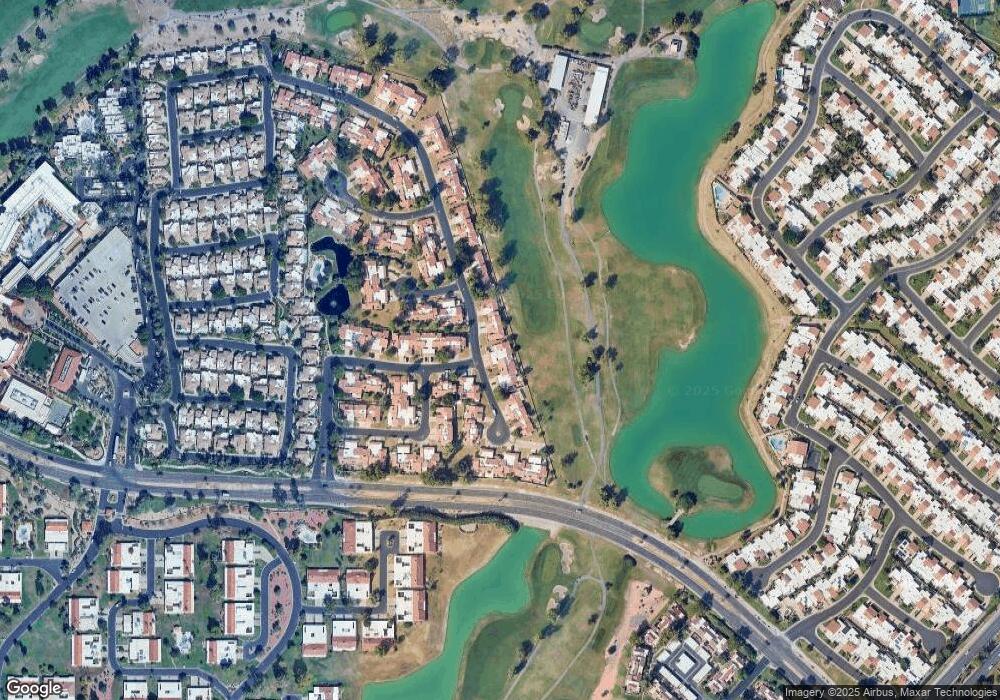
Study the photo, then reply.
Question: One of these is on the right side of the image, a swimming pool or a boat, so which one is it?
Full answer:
Looking on the right side of the image, you will find a swimming pool.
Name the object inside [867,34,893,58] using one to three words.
house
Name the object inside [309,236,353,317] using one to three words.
pond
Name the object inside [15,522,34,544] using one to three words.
swimming pool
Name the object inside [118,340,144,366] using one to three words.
building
